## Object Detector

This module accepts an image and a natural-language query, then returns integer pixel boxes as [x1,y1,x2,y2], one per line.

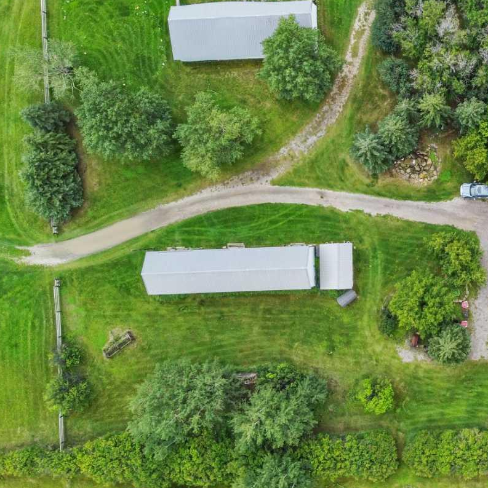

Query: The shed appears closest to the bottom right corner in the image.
[319,241,356,290]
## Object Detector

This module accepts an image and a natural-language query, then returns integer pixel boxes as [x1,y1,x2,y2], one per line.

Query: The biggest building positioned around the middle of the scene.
[141,242,317,294]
